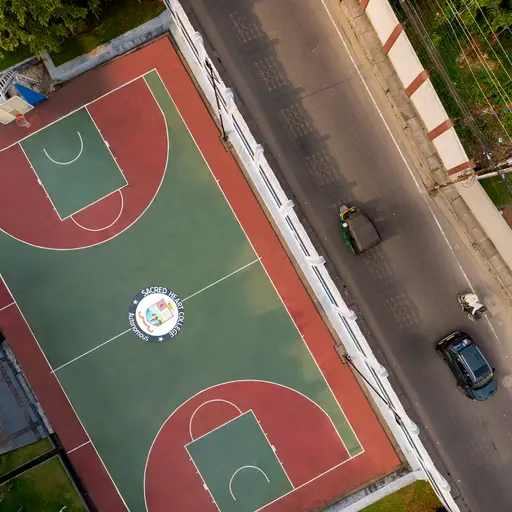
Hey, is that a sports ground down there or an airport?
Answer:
sports ground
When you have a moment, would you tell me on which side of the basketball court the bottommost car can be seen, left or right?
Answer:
right of it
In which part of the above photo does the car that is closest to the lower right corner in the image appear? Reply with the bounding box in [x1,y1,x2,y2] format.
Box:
[434,335,494,404]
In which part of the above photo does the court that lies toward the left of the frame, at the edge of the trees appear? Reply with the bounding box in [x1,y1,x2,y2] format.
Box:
[0,36,402,512]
